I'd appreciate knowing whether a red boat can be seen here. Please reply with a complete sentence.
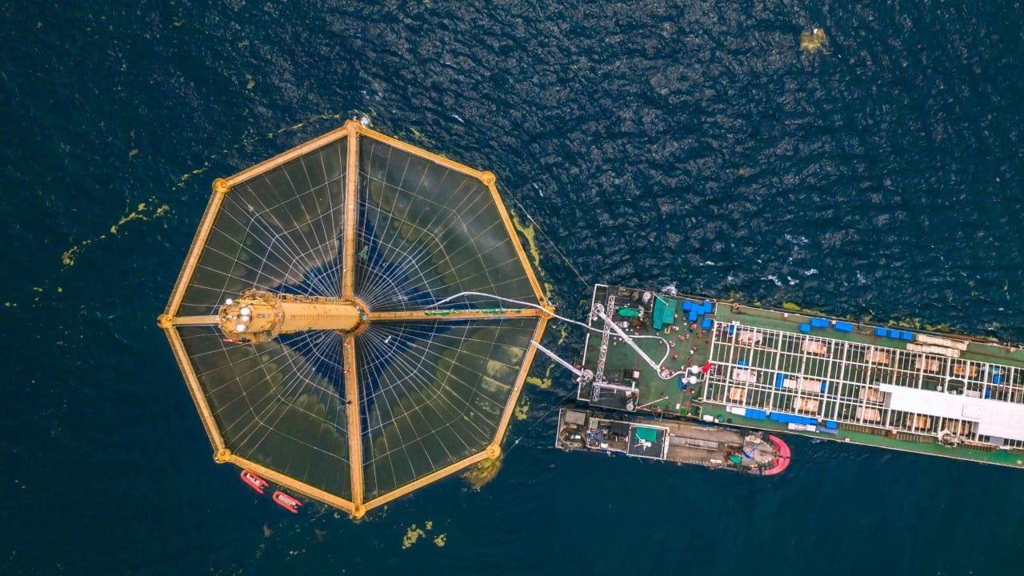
Yes, a red boat is visible in the scene.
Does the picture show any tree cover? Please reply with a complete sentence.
No, the picture contains no tree cover.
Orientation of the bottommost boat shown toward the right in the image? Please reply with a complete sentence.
In this picture, the bottommost boat shown toward the right is oriented from left to right.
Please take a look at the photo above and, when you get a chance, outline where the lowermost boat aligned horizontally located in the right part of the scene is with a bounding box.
[555,409,792,473]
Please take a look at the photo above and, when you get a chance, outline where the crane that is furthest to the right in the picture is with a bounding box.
[593,303,661,373]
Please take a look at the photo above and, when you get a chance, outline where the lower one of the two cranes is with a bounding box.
[531,340,597,384]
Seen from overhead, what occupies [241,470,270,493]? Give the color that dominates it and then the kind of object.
red boat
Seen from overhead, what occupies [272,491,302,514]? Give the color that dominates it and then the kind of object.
red boat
